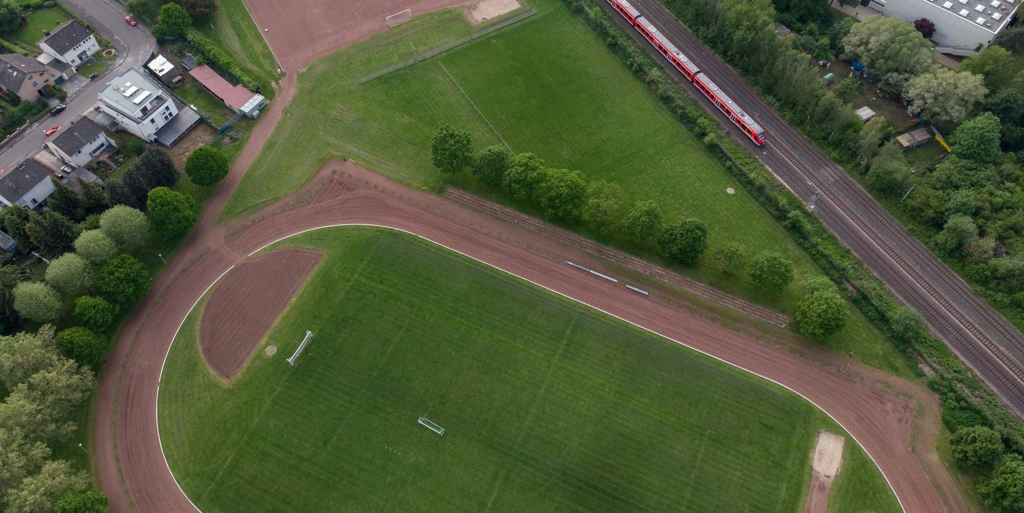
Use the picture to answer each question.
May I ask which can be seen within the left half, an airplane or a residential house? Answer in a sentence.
What appears within the left half is a residential house.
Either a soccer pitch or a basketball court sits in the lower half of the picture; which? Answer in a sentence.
Visible in the lower half of the picture is a soccer pitch.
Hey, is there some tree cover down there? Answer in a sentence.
Yes, there's tree cover in this view.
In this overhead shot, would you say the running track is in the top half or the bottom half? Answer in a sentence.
The running track sits in the bottom half of the picture.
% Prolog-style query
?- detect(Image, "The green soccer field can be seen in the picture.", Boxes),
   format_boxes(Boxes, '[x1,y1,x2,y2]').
[157,224,904,513]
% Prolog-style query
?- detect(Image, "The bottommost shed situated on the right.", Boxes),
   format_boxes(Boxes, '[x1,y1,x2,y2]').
[893,127,931,152]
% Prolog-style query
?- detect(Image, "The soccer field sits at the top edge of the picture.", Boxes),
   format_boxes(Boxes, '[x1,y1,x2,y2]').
[242,0,473,72]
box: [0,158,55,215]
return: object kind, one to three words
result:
house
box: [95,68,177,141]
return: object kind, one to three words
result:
house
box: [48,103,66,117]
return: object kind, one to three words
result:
car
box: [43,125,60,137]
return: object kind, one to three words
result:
vehicle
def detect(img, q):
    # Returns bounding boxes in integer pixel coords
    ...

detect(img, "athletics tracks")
[115,176,948,513]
